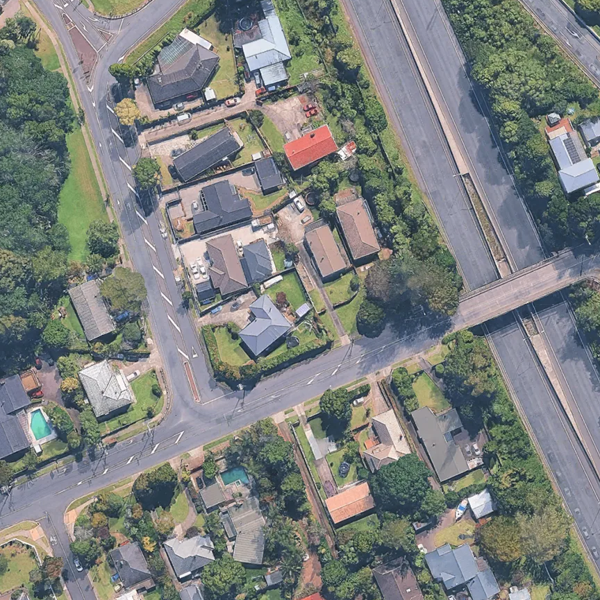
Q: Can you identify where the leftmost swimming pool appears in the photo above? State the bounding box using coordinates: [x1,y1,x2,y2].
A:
[30,408,51,441]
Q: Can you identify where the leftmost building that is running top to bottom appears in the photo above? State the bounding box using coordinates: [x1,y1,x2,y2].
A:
[0,369,42,461]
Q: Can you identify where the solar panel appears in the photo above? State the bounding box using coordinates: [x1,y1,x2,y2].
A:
[564,137,580,164]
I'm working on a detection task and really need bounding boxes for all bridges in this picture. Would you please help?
[448,238,600,333]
